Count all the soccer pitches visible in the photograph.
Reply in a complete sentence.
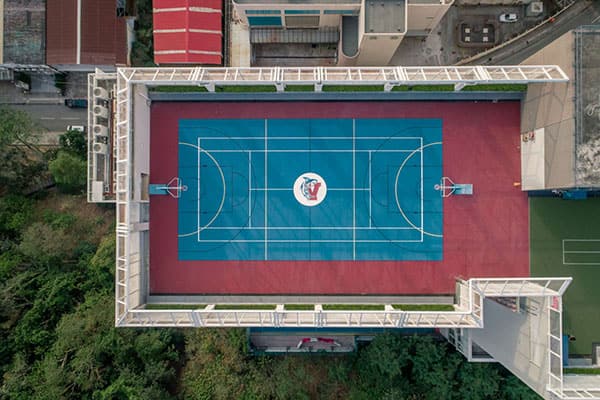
There are no soccer pitches in this view.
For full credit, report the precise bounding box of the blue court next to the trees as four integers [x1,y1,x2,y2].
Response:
[150,100,530,294]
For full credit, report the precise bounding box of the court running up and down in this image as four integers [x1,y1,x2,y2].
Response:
[530,190,600,350]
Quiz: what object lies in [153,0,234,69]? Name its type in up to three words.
building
